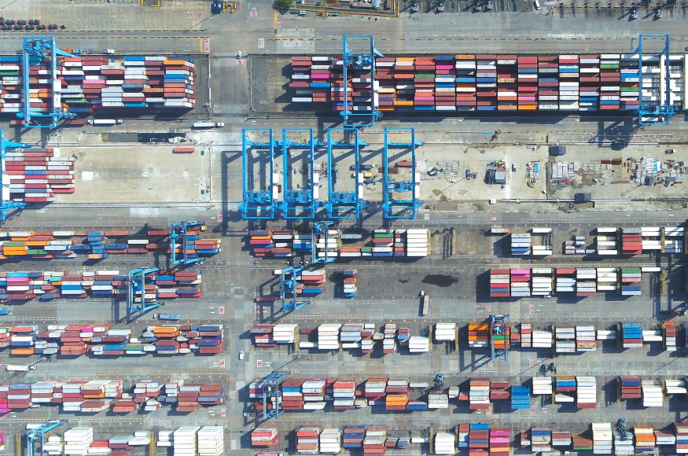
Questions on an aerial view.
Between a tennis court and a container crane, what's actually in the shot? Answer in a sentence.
The one in the frame is a container crane.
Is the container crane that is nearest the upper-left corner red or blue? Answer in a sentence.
The container crane that is nearest the upper-left corner is blue.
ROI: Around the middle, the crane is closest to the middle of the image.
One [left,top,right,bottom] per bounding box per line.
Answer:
[311,220,339,263]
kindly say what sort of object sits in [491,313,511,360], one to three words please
crane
